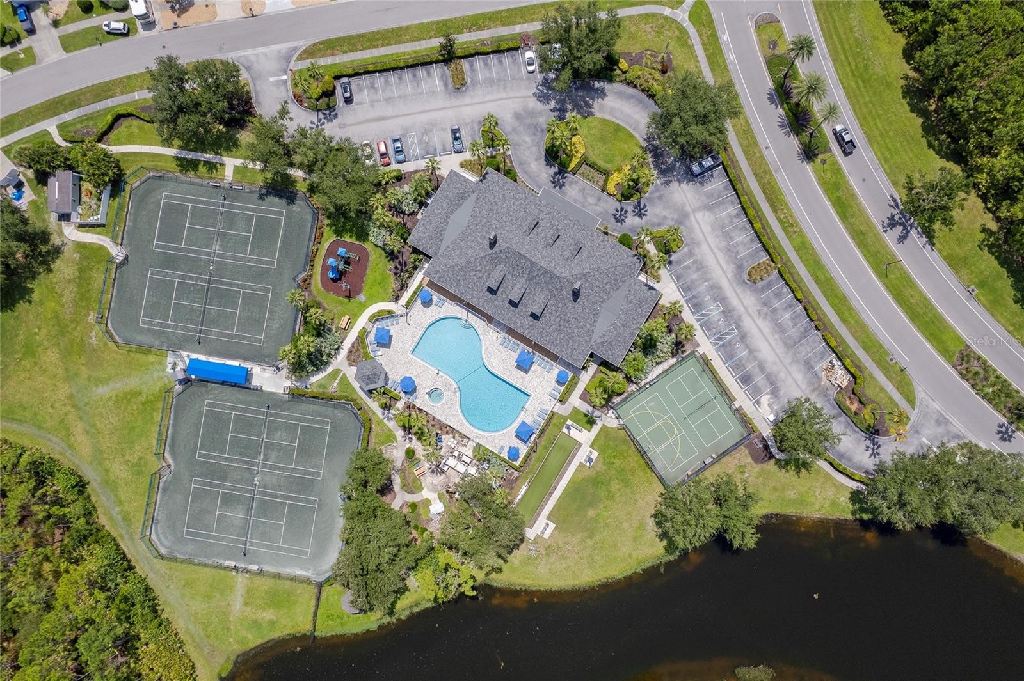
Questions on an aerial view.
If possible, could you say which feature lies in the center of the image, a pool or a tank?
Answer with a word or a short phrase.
pool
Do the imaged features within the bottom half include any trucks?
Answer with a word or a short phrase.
No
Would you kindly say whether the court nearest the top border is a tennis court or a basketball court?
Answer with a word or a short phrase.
tennis court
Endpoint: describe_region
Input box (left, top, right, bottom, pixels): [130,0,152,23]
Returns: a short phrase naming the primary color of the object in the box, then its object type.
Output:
white vehicle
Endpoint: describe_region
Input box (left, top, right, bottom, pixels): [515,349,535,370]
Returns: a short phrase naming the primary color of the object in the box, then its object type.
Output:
blue umbrella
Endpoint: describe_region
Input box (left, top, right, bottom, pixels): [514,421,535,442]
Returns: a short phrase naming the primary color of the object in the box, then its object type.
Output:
blue umbrella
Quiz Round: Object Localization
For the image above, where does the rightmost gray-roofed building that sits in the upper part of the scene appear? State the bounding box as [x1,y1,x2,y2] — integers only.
[407,168,662,369]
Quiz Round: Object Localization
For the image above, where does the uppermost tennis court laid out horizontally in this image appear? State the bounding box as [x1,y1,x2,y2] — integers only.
[122,178,317,278]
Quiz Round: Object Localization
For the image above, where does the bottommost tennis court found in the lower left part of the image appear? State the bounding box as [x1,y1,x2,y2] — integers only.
[150,466,351,581]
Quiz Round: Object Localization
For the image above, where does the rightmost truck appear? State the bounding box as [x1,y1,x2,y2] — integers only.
[834,123,857,155]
